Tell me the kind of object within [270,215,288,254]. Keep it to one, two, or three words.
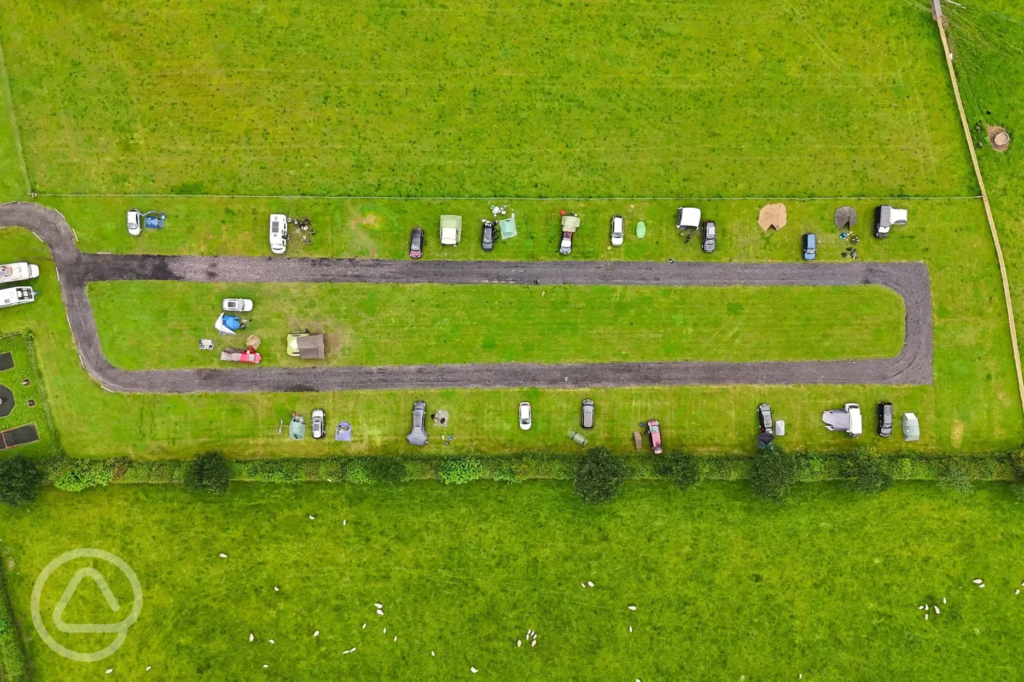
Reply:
vehicle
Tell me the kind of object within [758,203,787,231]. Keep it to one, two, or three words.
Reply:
tent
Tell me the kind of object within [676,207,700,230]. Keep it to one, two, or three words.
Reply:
gazebo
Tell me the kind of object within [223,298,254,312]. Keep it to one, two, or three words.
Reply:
car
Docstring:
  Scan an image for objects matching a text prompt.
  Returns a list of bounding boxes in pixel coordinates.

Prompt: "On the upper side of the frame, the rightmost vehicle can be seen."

[874,206,891,238]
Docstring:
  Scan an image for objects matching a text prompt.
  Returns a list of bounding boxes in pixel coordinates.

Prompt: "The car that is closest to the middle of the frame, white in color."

[519,402,532,431]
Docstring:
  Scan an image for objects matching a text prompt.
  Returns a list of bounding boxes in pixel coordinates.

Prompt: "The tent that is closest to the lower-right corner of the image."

[903,413,920,441]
